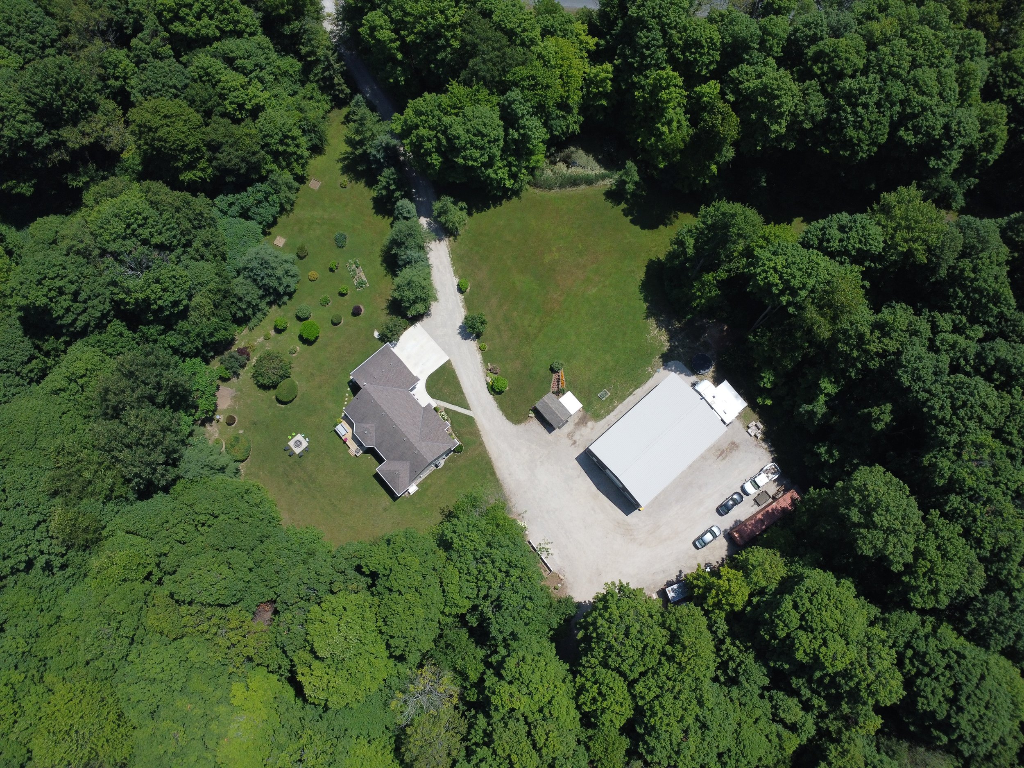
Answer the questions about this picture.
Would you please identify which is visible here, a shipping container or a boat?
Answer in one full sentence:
Looking from above, you can make out a shipping container.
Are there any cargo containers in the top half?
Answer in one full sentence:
No, I see no cargo container in the top half.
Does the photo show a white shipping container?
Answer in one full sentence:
No, there is no white shipping container in the image.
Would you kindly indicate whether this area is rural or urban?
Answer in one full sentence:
The land in this view is best described as rural.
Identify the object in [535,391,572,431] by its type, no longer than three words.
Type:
shed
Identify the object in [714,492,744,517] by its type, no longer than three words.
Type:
car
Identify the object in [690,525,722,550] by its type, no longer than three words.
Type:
car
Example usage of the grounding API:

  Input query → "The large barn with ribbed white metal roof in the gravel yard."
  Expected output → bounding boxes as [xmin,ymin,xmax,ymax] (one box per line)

[587,372,728,507]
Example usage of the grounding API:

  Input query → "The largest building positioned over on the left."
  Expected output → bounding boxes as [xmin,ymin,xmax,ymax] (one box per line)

[343,342,460,497]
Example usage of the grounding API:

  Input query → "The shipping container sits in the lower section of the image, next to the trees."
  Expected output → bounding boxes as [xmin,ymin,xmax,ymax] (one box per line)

[724,489,803,547]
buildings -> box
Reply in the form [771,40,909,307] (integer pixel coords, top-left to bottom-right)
[343,342,460,497]
[587,372,728,507]
[535,391,572,431]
